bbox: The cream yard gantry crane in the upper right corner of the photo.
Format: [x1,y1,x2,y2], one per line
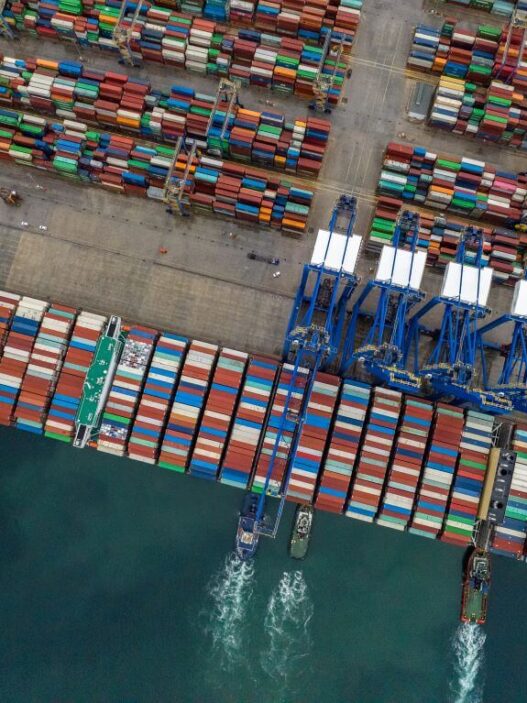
[482,8,527,91]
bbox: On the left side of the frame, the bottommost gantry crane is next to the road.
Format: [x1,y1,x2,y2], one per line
[162,136,203,216]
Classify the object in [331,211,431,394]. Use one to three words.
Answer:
container crane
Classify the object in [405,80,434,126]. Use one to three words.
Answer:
shed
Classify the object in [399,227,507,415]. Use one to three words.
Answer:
container crane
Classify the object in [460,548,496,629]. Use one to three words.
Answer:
boat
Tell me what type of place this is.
port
